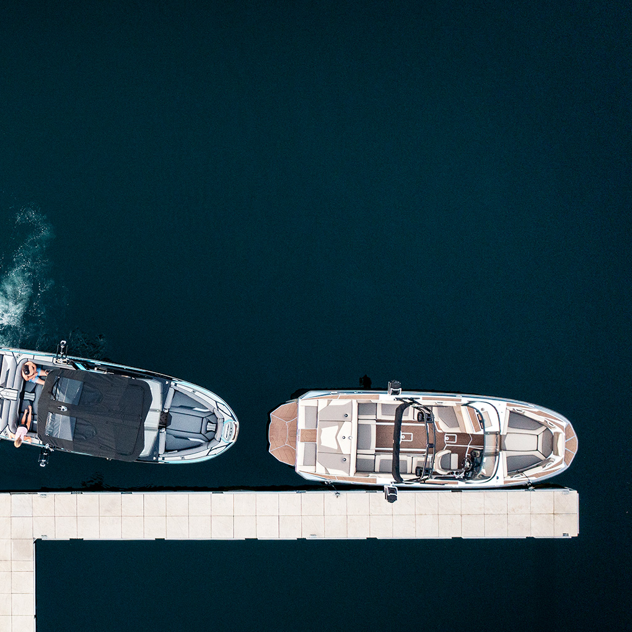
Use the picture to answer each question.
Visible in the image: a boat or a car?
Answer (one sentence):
Visible in the photo is a boat.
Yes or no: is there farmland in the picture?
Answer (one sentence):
No, there is no farmland in the image.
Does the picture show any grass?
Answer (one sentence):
No, there is no grass in the image.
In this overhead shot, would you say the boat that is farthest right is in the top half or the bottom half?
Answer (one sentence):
Seen from above, the boat that is farthest right lies in the bottom half of the view.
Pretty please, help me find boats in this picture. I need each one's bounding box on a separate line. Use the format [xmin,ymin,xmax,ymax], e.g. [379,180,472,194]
[0,340,239,467]
[267,380,579,503]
